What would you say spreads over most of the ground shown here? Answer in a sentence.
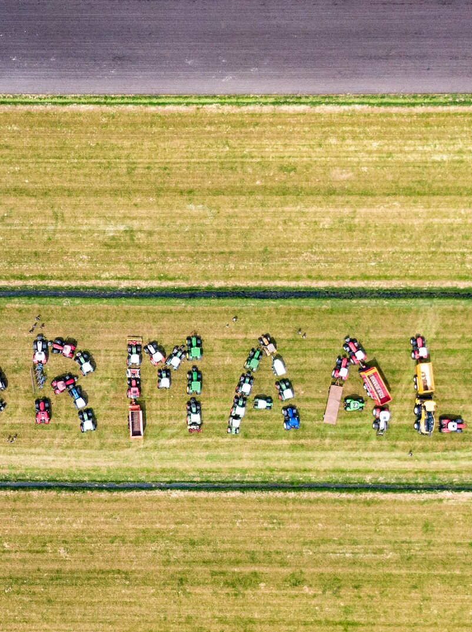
For the most part, this view shows grass.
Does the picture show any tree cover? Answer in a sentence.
No, no tree cover is visible.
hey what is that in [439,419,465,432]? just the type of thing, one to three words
vehicle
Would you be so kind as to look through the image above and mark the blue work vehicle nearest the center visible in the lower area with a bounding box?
[282,404,300,429]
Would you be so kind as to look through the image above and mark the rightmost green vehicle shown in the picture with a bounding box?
[343,399,366,412]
